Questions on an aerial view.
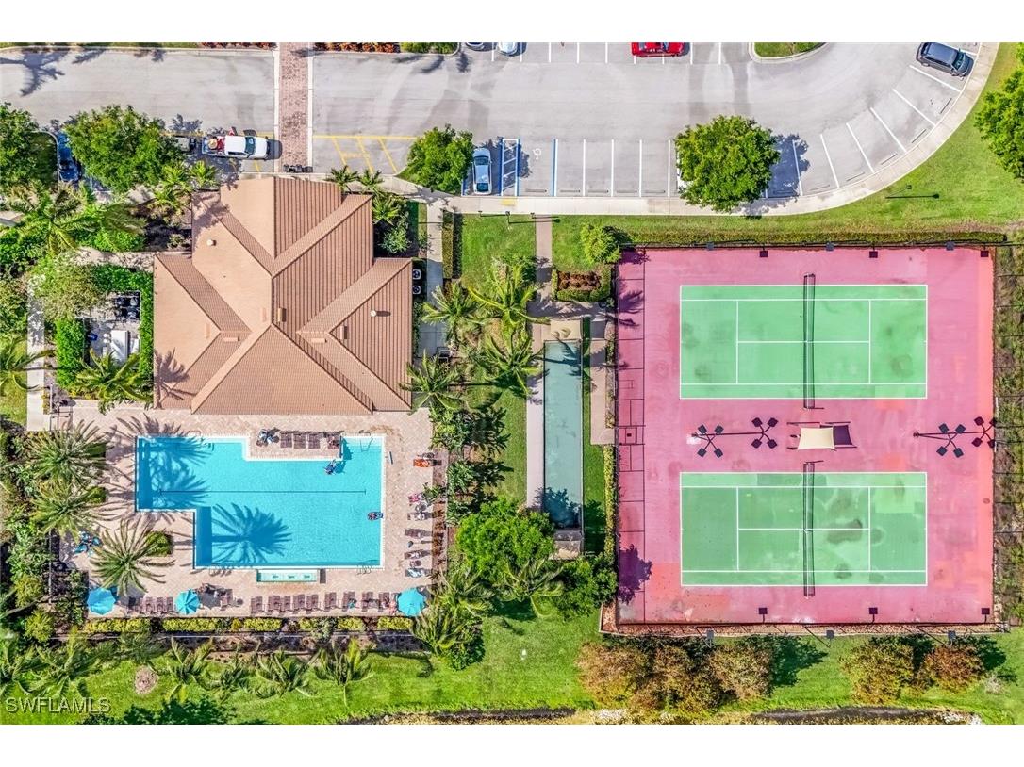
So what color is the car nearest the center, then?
blue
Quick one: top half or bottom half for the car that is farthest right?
top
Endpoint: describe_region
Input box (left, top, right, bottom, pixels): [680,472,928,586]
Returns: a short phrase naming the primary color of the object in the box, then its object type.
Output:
green tennis court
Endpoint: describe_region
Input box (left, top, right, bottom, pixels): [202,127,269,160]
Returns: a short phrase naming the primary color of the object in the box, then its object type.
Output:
white truck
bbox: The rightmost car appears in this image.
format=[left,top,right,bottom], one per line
[915,41,972,78]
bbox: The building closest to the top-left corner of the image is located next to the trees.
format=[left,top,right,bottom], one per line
[153,177,413,415]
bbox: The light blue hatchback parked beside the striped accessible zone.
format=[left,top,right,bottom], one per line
[472,145,494,195]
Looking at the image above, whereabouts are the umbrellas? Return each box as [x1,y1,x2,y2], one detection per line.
[175,587,201,613]
[90,586,117,614]
[399,588,425,614]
